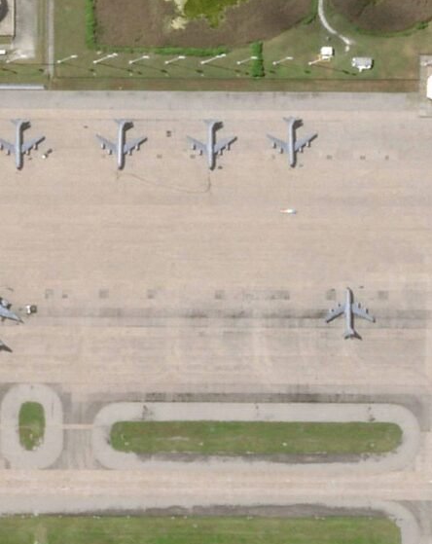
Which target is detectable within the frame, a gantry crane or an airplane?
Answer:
airplane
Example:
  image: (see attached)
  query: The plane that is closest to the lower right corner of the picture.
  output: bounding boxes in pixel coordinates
[325,288,375,339]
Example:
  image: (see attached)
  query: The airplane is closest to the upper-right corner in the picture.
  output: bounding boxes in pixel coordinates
[268,115,317,168]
